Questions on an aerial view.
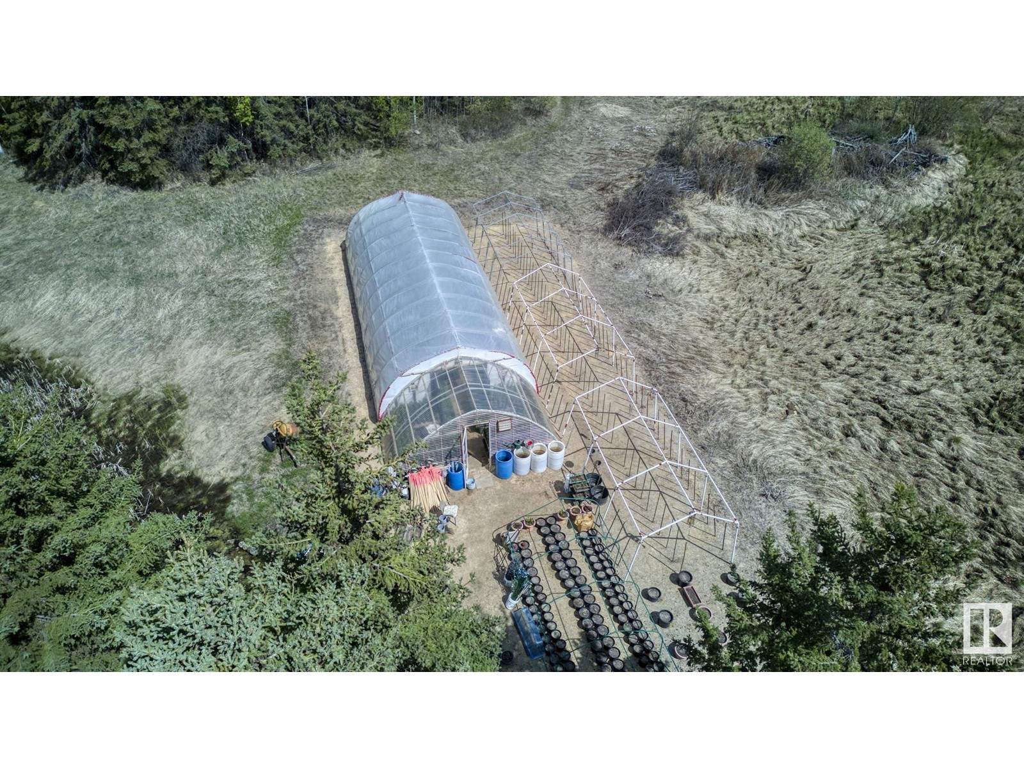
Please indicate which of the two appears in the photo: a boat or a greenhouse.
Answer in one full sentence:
Of the two, only a greenhouse appears.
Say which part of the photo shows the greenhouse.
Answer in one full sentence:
You can find the greenhouse in the center area of the picture.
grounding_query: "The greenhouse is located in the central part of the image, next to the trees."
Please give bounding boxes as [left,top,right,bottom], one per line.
[336,190,556,490]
